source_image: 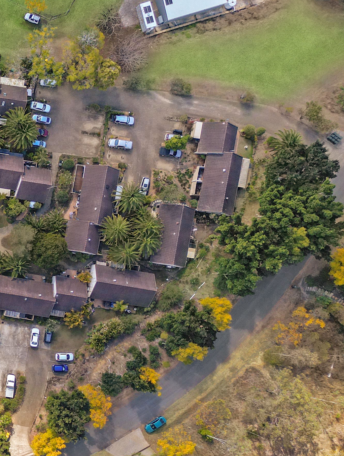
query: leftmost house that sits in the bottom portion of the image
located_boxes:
[0,275,59,320]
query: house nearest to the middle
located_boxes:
[147,204,202,268]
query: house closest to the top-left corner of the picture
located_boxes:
[0,77,30,125]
